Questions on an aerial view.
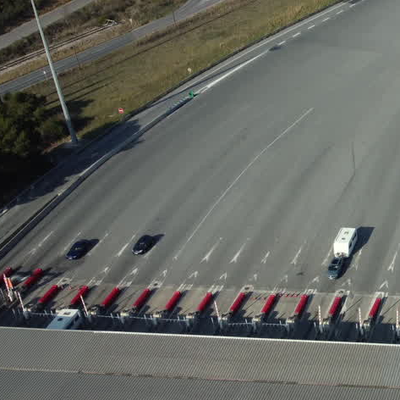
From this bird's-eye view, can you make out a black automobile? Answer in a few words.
Yes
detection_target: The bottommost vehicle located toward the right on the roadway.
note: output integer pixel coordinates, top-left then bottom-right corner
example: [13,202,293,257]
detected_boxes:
[328,254,346,278]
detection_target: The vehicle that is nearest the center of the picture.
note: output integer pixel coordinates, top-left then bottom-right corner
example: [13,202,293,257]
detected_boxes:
[131,236,157,256]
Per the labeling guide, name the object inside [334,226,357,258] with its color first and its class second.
white camper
